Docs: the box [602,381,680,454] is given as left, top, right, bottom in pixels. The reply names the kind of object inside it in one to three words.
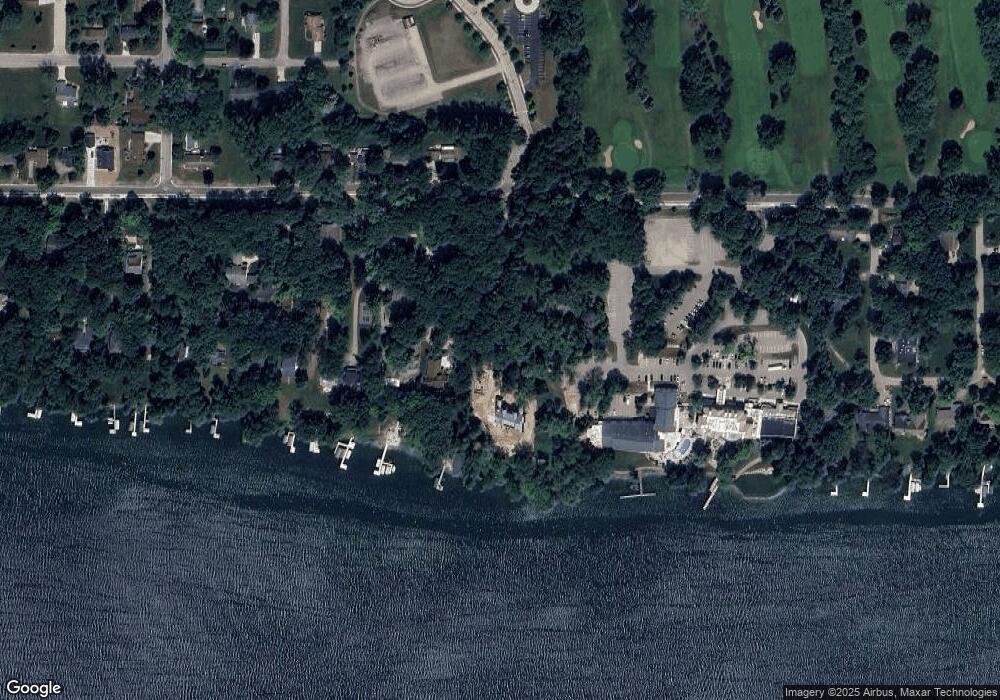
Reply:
building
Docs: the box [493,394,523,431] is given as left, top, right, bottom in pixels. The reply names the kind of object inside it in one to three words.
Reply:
house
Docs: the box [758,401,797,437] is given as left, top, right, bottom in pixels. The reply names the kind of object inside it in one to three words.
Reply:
building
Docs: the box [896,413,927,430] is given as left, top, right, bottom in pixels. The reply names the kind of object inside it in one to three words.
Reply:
house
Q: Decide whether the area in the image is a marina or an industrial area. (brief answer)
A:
marina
